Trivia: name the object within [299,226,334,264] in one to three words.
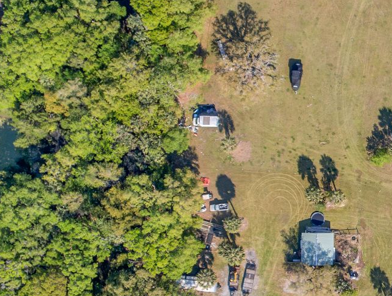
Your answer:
shed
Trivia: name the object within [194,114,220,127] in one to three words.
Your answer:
vehicle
